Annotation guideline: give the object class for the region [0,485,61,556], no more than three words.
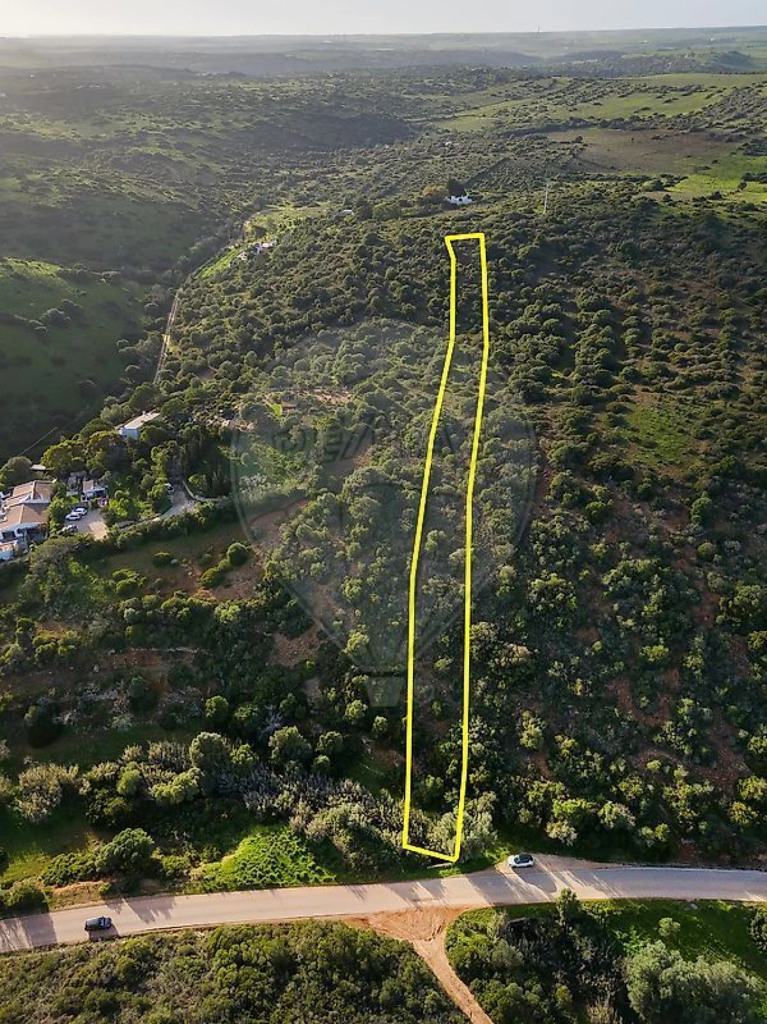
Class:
house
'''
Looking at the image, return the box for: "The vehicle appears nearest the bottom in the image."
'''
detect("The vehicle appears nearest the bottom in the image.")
[83,919,113,935]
